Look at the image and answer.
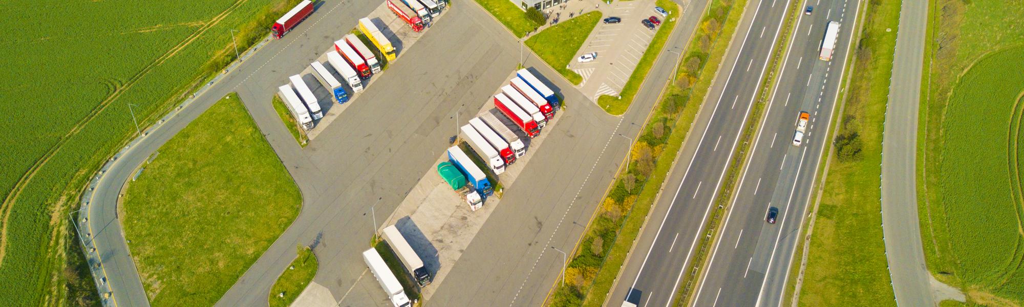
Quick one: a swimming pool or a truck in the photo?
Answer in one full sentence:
There is a truck in the scene.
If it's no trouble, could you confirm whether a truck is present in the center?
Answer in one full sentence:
Yes, there is a truck in the center.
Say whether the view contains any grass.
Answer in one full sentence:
Yes, the picture does contain grass.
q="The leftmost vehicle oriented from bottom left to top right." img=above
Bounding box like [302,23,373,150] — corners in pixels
[271,0,313,39]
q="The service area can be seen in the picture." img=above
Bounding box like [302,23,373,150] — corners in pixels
[88,0,711,307]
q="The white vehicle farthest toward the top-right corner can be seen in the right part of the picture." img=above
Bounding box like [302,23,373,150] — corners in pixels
[820,21,839,59]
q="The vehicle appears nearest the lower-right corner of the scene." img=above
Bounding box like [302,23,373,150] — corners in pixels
[767,207,779,223]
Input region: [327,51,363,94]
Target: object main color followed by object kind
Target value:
white truck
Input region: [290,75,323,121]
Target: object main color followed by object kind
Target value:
white truck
